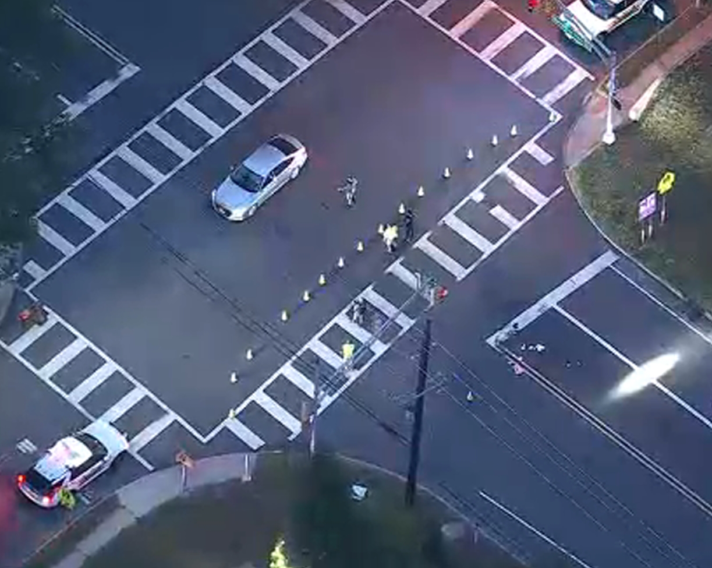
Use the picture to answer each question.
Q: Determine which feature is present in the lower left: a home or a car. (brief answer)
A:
car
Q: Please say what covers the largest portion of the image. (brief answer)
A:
paved ground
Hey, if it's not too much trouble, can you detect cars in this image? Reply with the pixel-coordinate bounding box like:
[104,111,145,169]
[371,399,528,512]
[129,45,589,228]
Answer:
[19,422,134,511]
[212,132,306,221]
[558,0,663,48]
